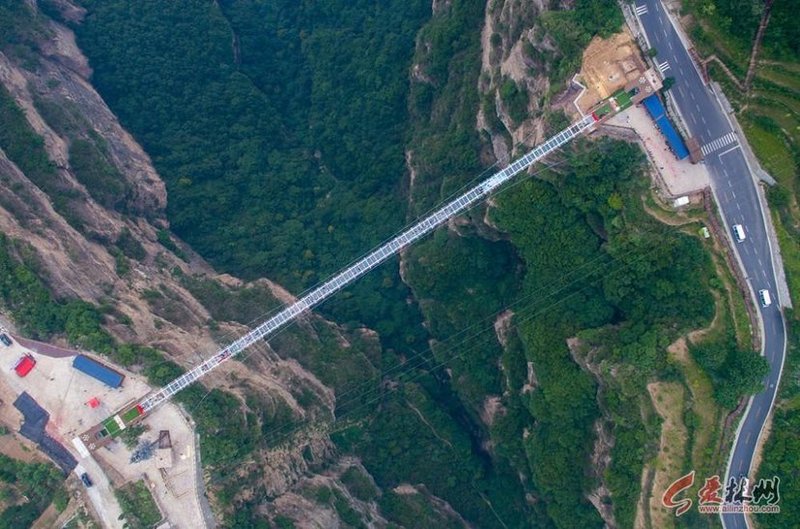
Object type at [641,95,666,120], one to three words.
building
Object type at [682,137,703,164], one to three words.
building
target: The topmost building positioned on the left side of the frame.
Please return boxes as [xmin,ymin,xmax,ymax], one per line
[73,354,128,388]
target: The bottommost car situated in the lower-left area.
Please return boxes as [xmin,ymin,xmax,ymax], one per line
[81,470,94,488]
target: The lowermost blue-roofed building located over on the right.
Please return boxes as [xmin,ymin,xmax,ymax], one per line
[652,115,689,161]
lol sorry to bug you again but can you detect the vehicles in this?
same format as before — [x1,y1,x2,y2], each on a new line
[737,477,748,498]
[732,223,744,242]
[81,470,94,488]
[759,288,770,307]
[0,333,15,346]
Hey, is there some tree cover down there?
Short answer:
Yes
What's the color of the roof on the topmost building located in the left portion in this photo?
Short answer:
blue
